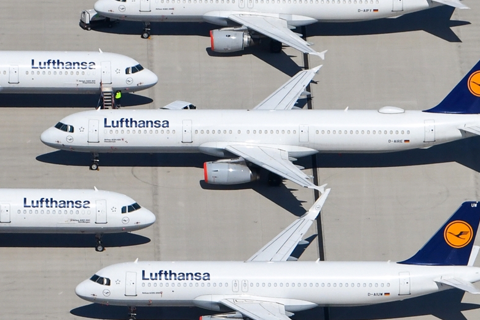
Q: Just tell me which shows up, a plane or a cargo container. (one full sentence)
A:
The image shows a plane.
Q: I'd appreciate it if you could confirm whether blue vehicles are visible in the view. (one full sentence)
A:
No, no blue vehicle is visible in the scene.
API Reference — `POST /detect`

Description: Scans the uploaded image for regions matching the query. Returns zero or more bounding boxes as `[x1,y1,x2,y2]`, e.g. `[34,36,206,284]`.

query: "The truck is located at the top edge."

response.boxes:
[80,4,127,29]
